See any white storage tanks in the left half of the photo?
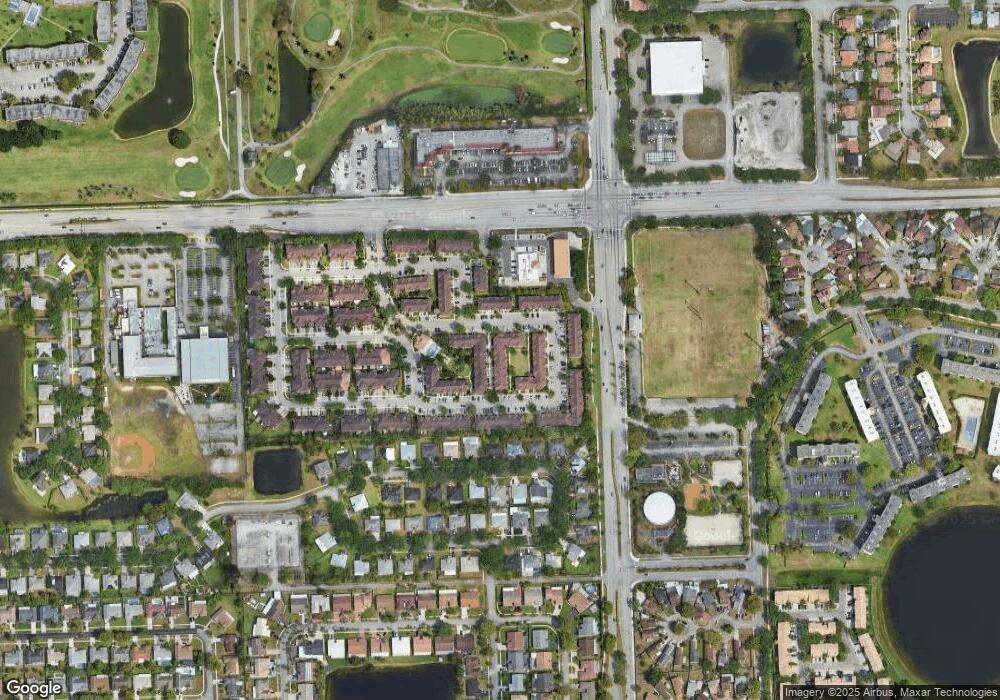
No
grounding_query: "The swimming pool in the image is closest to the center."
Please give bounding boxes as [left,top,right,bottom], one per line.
[422,340,439,358]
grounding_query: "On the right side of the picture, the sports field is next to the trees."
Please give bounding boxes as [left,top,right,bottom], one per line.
[634,225,765,399]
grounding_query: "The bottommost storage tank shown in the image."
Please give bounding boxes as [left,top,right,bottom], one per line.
[644,492,677,524]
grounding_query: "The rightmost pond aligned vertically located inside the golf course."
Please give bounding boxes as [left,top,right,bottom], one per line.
[278,35,312,131]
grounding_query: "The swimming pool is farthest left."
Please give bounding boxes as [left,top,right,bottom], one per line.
[22,4,42,27]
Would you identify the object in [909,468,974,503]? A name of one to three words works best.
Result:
building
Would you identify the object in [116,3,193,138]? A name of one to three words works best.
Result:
pond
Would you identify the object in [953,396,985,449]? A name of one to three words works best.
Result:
swimming pool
